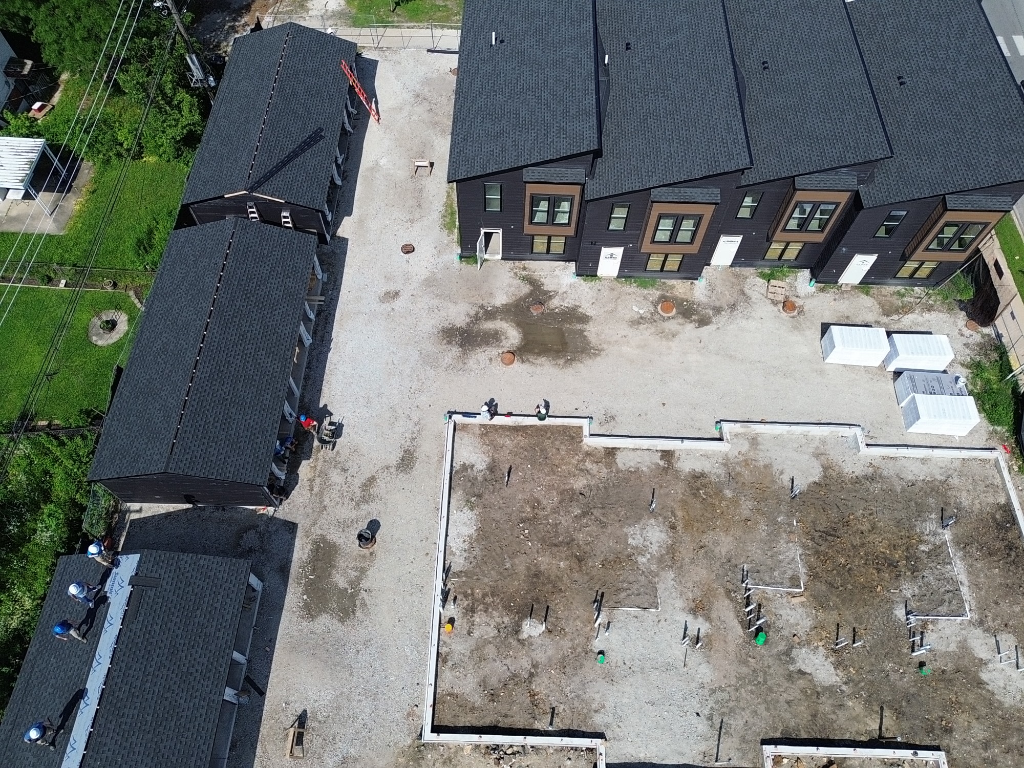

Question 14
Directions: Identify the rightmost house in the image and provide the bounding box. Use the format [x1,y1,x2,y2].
[814,0,1024,287]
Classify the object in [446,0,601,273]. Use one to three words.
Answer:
house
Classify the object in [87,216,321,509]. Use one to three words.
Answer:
building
